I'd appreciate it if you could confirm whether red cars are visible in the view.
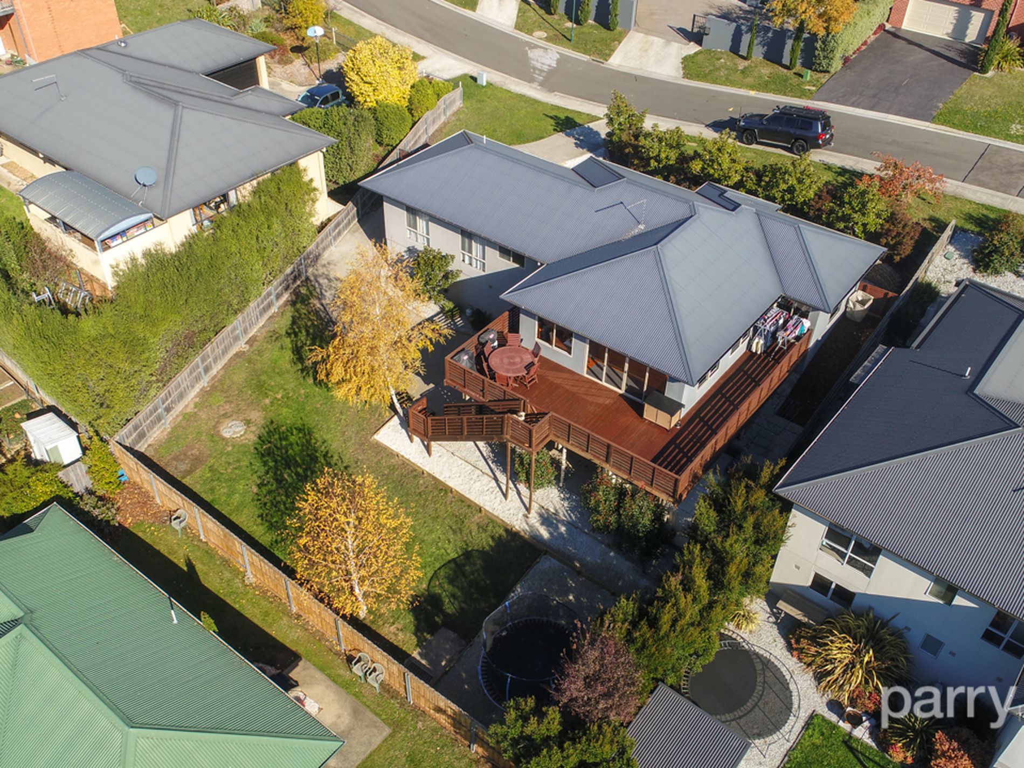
No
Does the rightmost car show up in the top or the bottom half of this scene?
top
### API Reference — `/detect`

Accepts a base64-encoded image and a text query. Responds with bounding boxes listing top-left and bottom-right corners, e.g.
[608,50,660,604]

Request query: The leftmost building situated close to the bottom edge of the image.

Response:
[0,501,348,768]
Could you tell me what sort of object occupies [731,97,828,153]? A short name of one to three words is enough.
car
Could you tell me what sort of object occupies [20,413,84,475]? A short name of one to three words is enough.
shed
